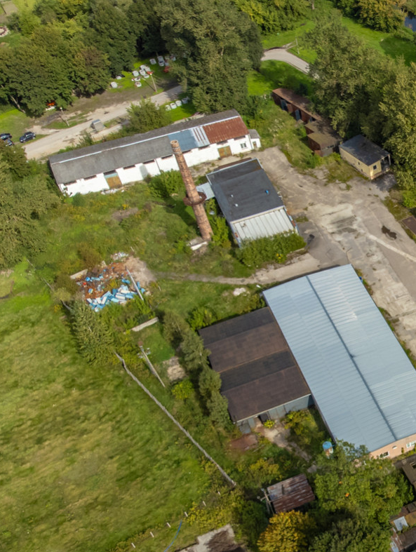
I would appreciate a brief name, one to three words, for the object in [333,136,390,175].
shed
